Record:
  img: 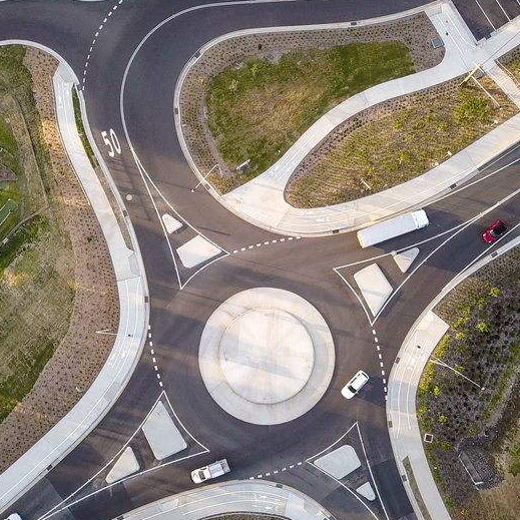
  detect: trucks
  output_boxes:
[189,458,231,484]
[354,209,426,251]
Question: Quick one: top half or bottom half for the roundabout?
bottom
